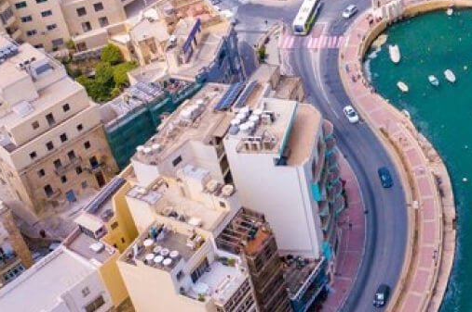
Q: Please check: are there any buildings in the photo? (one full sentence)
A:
Yes, a building can be made out from above.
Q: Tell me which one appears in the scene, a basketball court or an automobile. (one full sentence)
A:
The one in the frame is an automobile.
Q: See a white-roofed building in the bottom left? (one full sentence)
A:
Yes, in the bottom left there is a white-roofed building.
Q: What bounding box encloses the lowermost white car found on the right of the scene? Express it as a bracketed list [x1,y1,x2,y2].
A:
[344,105,357,121]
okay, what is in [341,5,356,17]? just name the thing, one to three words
vehicle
